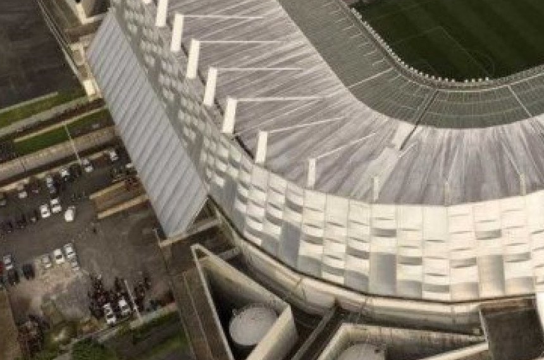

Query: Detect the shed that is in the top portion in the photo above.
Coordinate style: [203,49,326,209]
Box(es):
[83,83,104,113]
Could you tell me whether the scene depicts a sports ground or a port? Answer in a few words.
sports ground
